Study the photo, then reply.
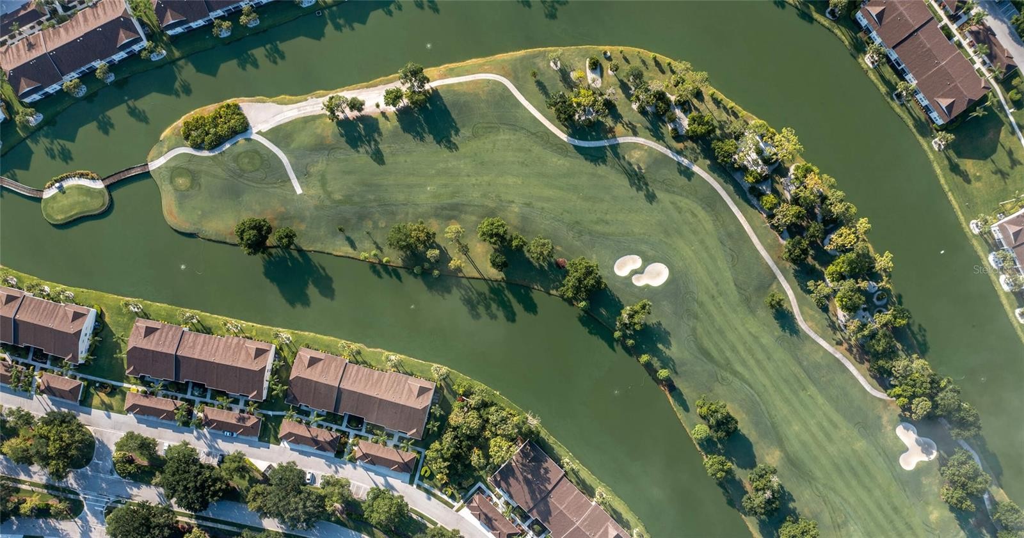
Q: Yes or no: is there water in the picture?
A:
Yes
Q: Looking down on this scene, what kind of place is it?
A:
golf course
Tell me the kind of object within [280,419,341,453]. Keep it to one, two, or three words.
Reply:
building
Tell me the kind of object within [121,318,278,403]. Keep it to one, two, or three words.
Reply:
house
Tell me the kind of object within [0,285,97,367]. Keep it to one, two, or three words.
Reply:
house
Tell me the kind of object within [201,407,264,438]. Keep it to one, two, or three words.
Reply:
building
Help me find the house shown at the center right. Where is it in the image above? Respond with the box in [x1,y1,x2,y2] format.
[988,204,1024,280]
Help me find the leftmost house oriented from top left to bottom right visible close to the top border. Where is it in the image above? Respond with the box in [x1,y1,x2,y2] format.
[843,0,991,126]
